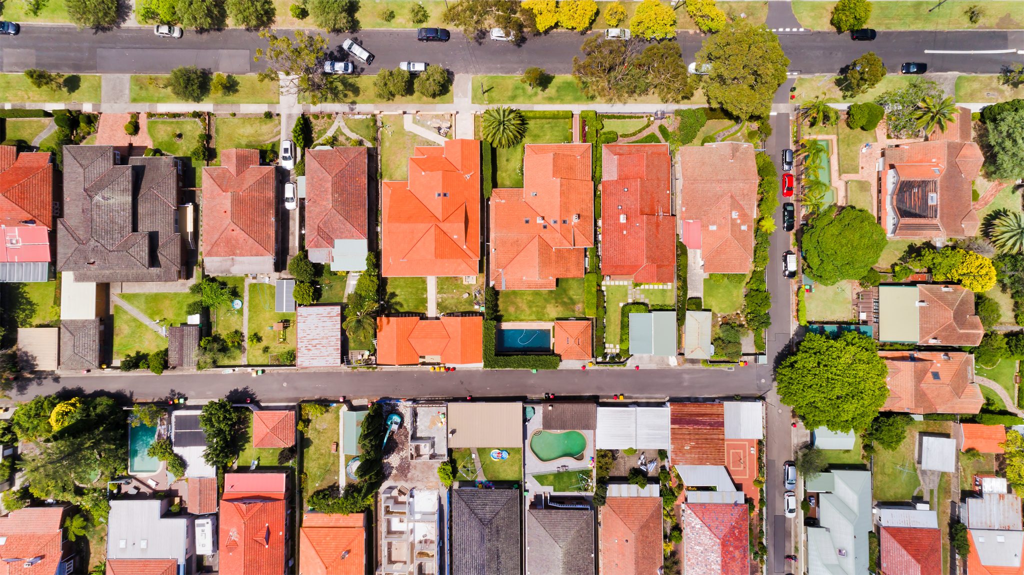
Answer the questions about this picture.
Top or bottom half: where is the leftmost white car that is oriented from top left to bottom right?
top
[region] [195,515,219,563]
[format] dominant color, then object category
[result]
white camper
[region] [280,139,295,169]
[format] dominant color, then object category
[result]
white car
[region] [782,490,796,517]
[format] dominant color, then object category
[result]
white car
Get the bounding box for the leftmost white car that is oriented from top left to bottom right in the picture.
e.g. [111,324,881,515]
[343,41,374,65]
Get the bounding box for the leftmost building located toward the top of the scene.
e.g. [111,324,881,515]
[0,145,61,282]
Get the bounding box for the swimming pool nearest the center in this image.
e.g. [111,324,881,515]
[495,326,554,355]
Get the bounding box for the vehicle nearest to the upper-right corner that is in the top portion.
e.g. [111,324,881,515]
[899,61,926,75]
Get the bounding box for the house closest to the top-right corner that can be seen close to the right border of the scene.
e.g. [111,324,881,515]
[867,104,984,238]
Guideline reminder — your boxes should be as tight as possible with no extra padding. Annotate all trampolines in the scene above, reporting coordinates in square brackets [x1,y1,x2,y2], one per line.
[231,299,243,310]
[345,459,363,479]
